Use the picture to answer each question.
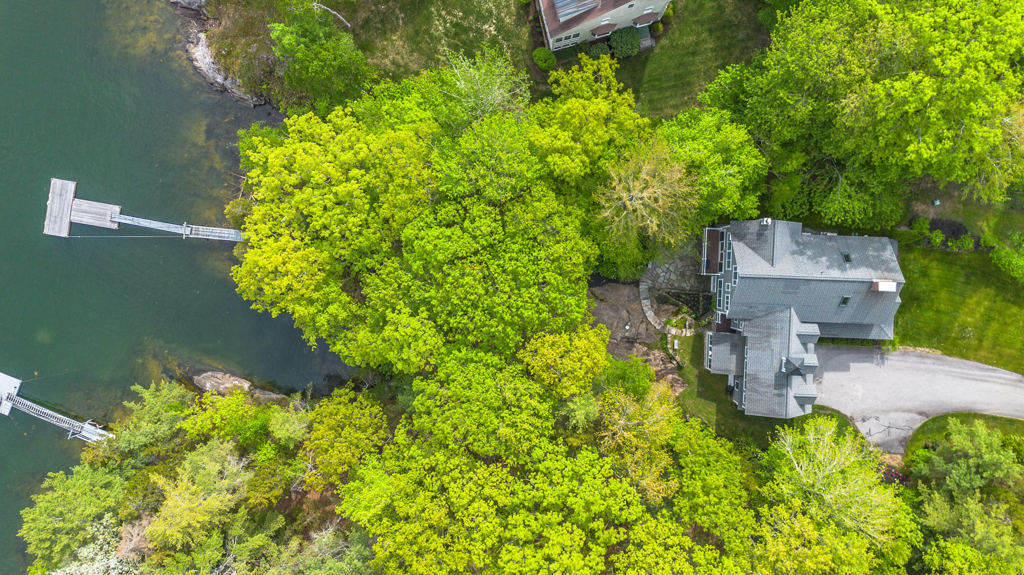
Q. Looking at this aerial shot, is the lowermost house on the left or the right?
right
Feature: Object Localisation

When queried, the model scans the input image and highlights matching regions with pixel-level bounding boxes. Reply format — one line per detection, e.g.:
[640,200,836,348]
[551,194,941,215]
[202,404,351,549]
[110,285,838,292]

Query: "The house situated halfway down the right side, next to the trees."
[696,217,905,422]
